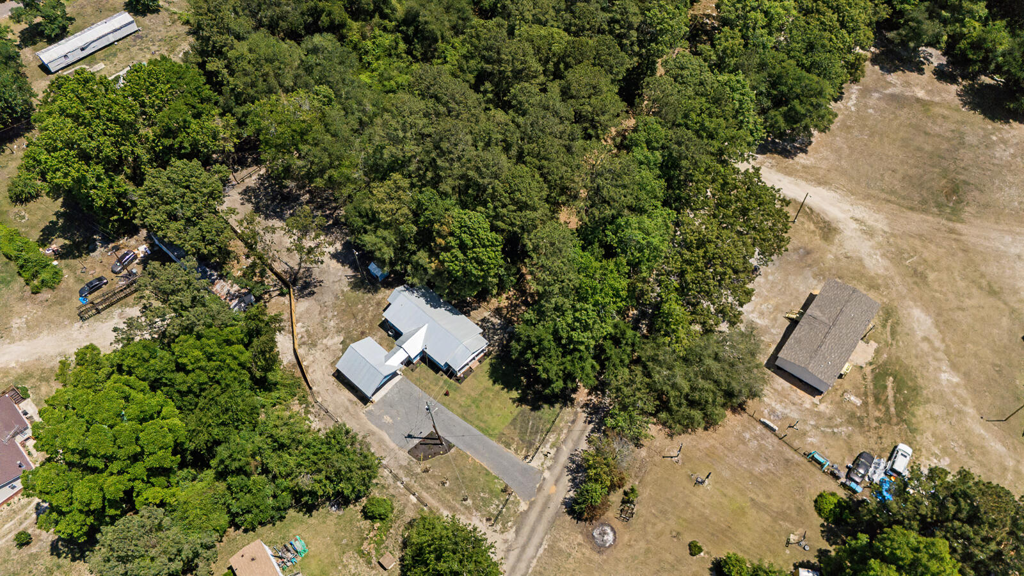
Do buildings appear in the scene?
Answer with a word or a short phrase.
Yes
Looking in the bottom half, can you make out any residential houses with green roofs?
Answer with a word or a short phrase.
No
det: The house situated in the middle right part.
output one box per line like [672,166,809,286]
[775,278,881,397]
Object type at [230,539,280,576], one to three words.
house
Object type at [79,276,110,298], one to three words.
car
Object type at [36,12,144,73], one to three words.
house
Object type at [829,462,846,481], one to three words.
work vehicle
